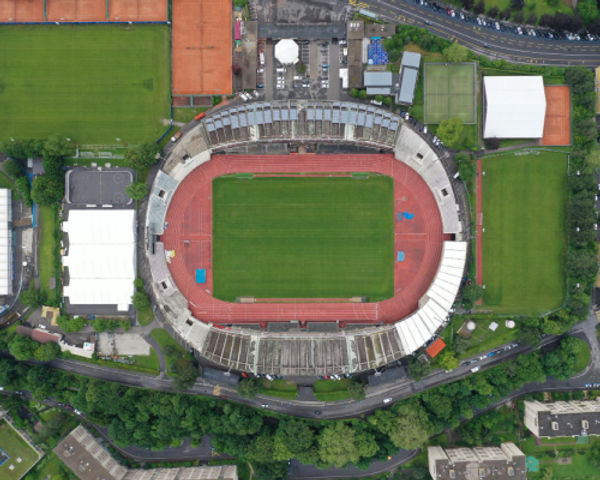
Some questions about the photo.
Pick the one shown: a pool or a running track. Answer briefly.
running track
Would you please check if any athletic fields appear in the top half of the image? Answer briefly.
Yes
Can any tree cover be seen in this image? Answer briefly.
Yes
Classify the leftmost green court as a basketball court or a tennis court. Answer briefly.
tennis court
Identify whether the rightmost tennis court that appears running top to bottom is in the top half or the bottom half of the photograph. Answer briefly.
top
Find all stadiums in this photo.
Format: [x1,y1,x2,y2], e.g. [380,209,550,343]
[144,98,468,379]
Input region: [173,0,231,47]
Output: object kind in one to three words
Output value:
tennis court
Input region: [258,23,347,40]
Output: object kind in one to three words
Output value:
building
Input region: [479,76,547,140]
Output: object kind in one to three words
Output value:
building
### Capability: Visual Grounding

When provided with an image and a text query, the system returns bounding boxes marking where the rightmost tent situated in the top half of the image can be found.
[275,41,298,66]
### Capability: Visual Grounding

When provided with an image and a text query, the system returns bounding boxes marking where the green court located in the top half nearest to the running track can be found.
[425,63,475,124]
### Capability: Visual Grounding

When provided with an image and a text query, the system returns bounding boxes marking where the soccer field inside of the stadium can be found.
[212,173,394,303]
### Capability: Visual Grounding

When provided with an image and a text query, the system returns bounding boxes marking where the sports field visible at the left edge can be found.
[0,25,169,146]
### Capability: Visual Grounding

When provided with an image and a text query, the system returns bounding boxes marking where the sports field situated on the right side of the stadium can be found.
[476,151,569,313]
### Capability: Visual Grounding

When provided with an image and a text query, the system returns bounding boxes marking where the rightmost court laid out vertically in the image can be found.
[541,86,570,145]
